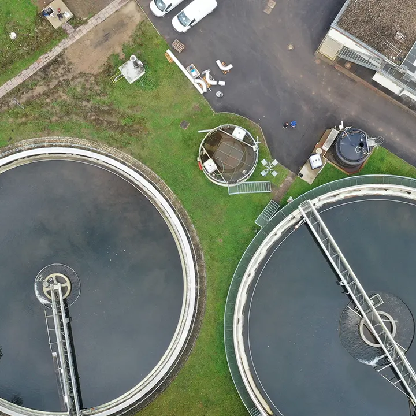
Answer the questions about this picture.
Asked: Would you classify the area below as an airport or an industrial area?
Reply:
industrial area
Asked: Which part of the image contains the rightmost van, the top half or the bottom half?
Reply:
top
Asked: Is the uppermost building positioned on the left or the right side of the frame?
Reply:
left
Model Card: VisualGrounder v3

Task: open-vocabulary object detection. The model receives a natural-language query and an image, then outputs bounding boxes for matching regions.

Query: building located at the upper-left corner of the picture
[42,0,74,30]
